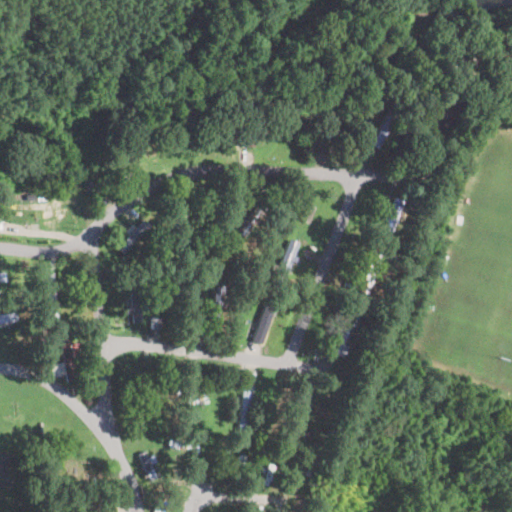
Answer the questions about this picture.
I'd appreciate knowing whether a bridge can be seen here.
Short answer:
No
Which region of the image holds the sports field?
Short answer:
right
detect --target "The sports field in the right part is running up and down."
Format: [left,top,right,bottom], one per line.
[412,124,512,397]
